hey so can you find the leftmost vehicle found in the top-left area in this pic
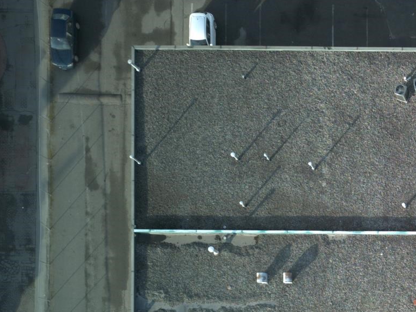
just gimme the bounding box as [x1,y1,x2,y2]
[47,7,85,76]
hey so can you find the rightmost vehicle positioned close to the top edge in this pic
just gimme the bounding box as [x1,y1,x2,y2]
[186,5,220,47]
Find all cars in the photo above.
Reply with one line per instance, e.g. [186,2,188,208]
[186,5,220,47]
[47,7,85,76]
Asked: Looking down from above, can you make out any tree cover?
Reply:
No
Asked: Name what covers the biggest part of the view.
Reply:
buildings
